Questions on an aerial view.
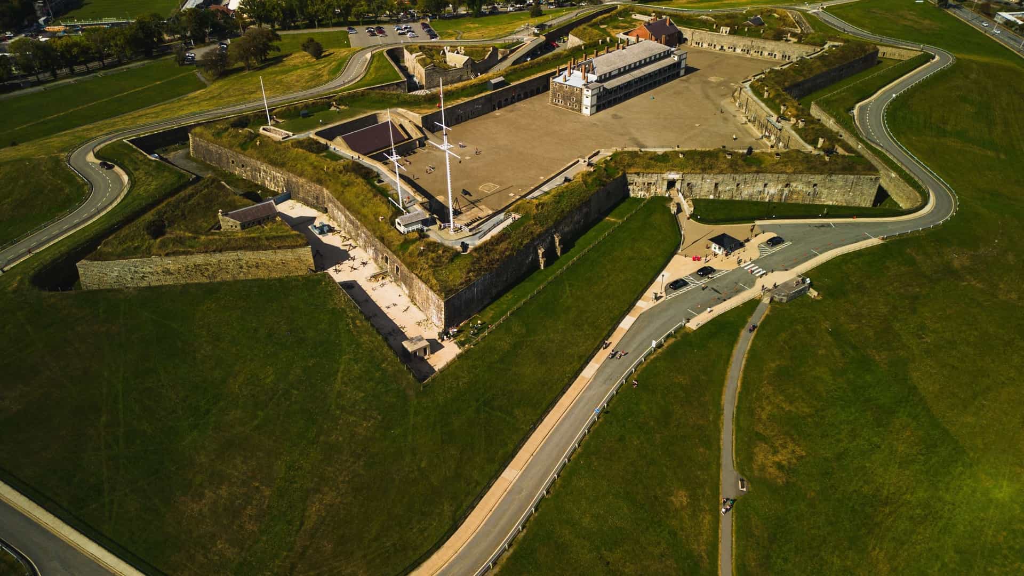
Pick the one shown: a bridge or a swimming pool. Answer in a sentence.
The image shows a bridge.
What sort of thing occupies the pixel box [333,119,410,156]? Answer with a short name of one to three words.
building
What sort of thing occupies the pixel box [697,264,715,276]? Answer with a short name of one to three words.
vehicle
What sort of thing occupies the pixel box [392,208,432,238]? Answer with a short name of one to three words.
shed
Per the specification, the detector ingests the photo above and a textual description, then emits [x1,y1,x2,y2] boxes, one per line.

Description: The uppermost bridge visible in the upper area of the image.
[471,37,544,81]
